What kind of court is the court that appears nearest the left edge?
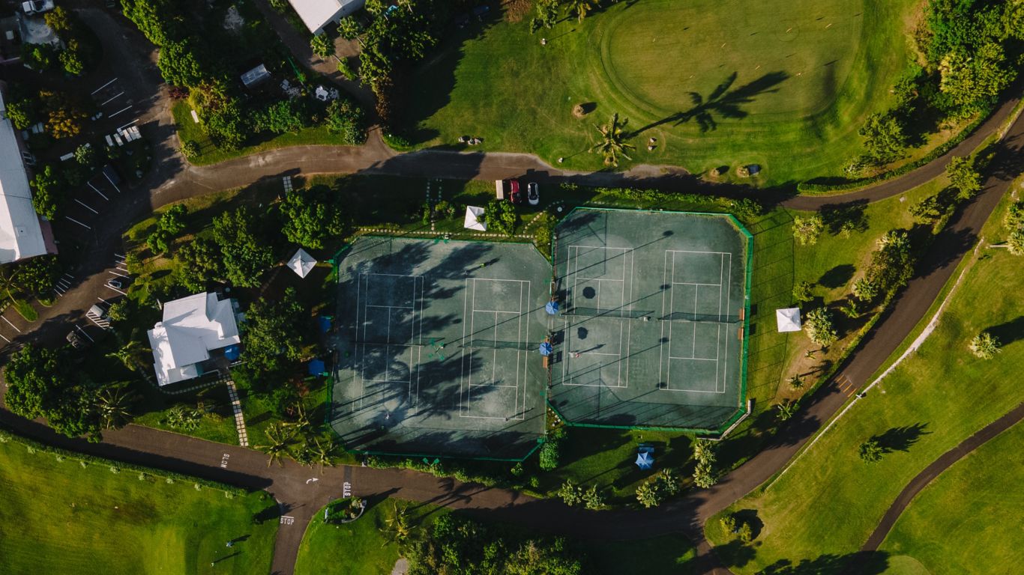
tennis court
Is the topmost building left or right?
left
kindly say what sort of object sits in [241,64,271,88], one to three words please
shed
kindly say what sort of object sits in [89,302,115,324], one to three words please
car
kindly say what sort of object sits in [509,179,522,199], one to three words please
vehicle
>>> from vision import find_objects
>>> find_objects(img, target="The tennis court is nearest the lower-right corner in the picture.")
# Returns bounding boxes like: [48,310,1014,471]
[549,213,740,423]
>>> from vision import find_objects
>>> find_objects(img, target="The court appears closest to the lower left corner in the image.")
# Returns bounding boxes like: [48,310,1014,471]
[333,240,548,455]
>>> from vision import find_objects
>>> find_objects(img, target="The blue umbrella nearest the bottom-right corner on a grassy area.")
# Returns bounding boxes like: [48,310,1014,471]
[636,450,653,467]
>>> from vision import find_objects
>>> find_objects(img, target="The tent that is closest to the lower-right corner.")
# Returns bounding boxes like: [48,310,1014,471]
[773,308,801,332]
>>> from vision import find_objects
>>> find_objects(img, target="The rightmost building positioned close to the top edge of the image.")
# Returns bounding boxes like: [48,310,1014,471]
[292,0,359,36]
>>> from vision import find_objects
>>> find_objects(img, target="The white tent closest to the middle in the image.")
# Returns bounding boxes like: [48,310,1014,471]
[464,206,486,231]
